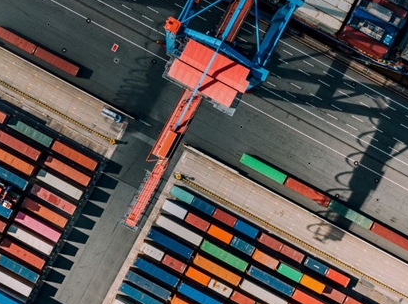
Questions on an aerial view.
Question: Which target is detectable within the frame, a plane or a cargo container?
cargo container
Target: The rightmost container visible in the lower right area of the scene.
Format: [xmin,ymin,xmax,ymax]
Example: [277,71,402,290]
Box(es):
[368,220,408,251]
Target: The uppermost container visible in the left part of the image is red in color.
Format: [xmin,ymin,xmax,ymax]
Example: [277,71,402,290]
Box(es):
[0,23,39,52]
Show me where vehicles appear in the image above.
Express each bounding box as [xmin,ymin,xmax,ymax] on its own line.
[102,106,124,123]
[0,176,27,211]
